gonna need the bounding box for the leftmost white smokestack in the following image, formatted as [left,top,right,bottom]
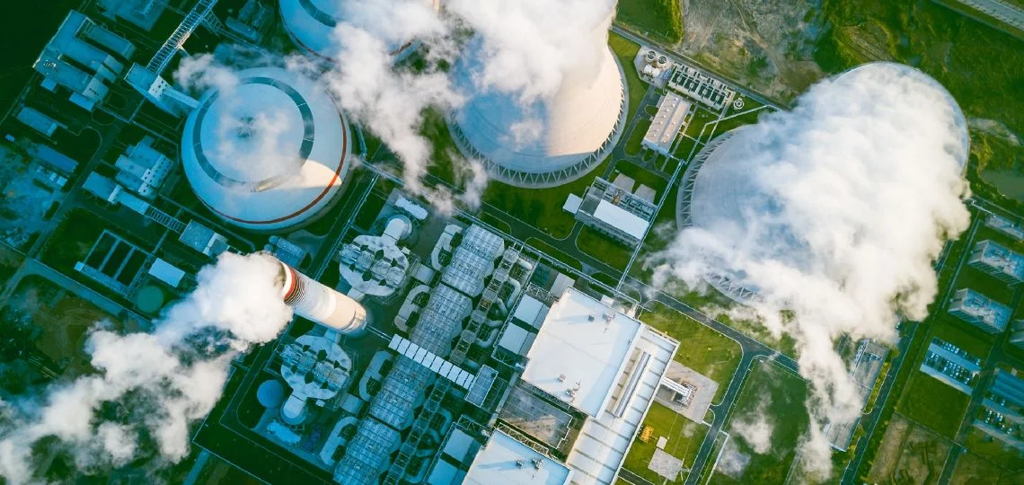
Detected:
[261,262,371,333]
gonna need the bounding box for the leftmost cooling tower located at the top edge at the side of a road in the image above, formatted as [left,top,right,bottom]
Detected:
[445,0,628,187]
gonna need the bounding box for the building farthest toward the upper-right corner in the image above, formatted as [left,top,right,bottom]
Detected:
[977,207,1024,248]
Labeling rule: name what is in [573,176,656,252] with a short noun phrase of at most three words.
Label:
building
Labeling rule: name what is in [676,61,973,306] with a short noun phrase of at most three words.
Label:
cooling tower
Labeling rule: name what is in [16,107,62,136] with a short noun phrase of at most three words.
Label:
shed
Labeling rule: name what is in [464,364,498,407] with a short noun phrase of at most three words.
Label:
house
